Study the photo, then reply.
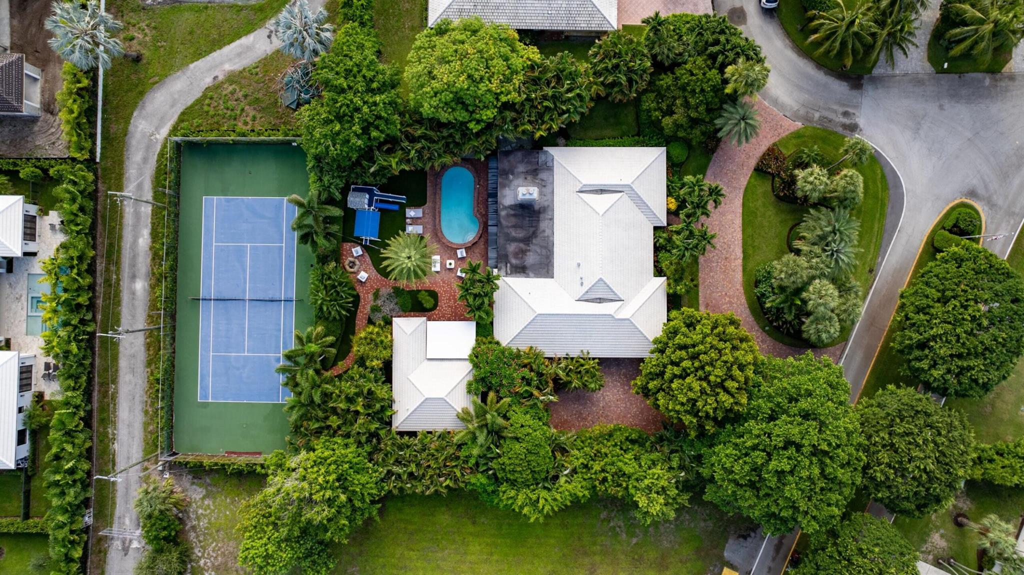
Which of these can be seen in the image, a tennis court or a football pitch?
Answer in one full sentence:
I can see a tennis court in this picture.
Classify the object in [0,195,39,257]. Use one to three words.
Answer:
house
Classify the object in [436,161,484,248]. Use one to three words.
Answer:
swimming pool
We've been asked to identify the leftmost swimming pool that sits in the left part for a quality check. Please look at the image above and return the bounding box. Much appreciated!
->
[26,273,64,336]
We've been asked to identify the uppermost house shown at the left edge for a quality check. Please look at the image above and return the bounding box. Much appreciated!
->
[0,53,45,119]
